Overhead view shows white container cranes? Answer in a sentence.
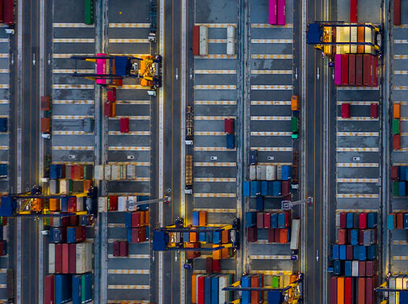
No, I can't see a single white container crane in this photo.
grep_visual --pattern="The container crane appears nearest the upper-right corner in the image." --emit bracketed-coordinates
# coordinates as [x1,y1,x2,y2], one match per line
[303,22,383,58]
